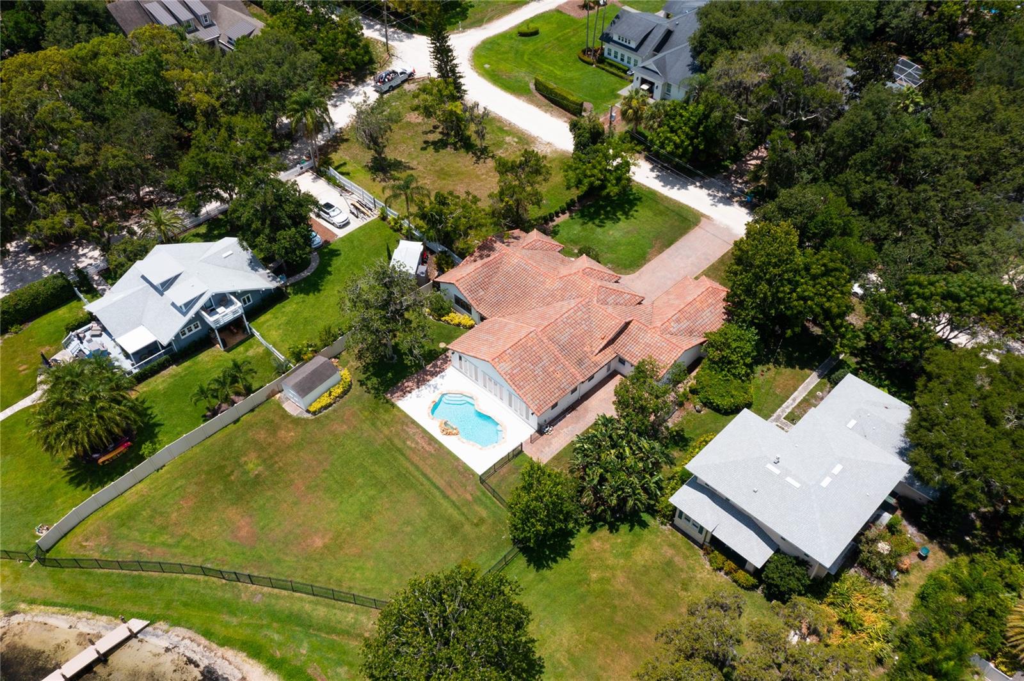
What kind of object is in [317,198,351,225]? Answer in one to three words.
car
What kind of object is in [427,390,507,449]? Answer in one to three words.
swimming pool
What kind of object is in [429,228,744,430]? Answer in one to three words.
house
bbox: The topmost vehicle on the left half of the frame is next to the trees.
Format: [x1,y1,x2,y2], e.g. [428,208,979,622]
[373,68,413,94]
